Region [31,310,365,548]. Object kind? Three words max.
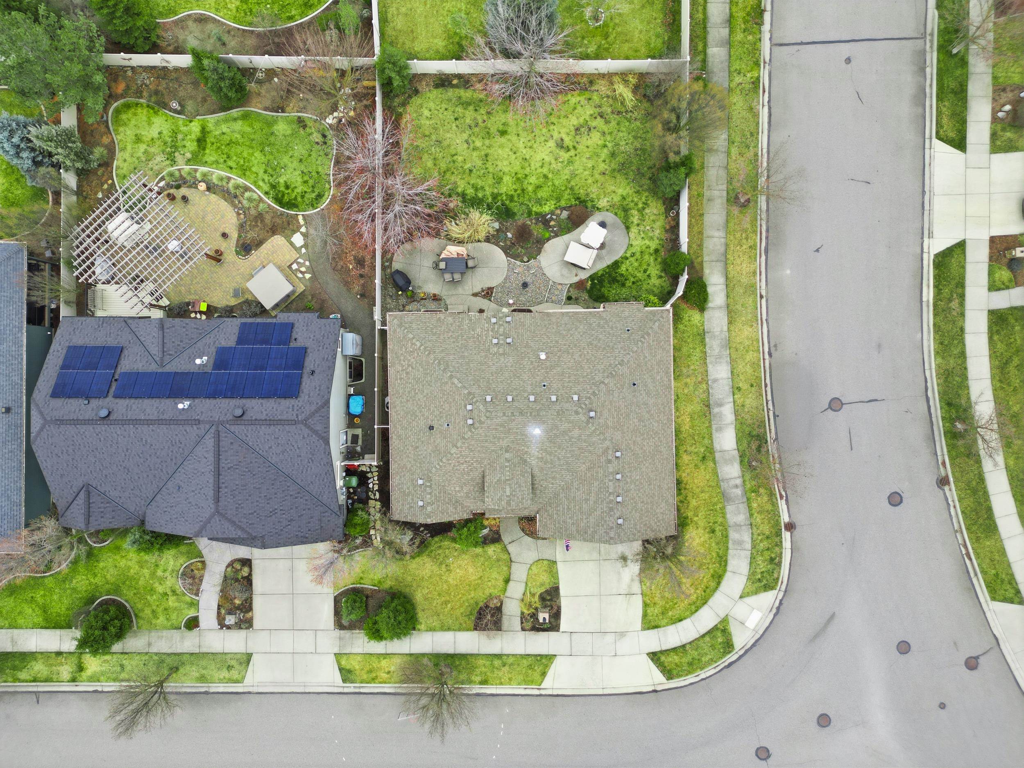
house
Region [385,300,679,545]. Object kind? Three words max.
house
